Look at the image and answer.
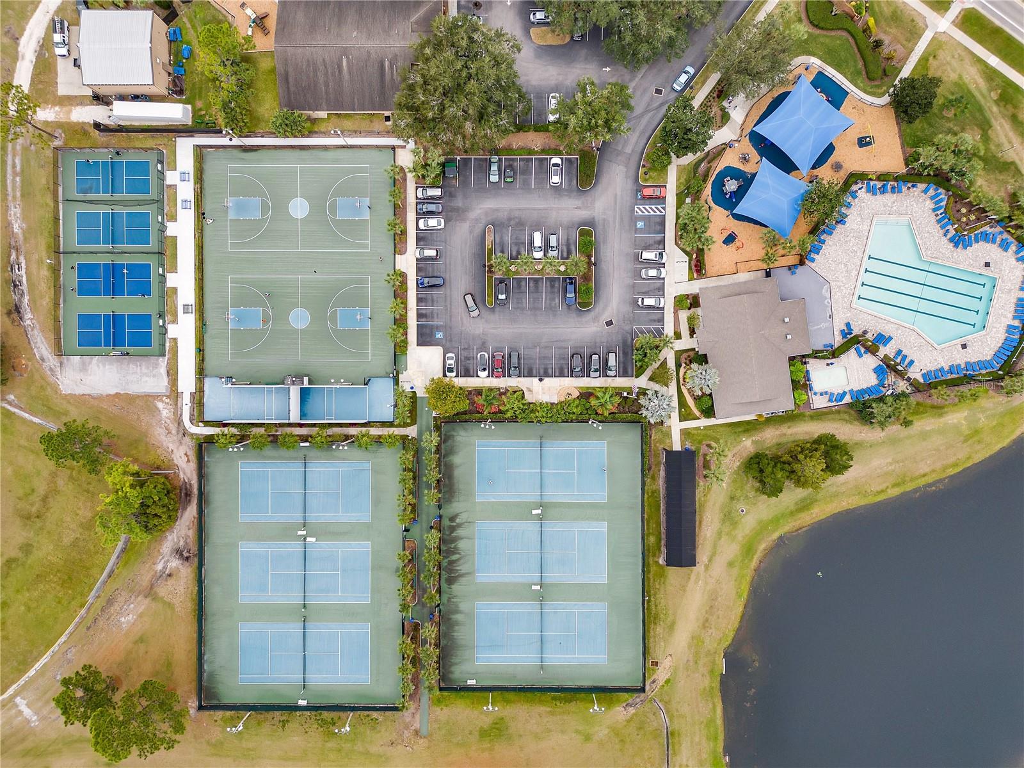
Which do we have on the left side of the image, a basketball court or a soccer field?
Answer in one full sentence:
The one visible on the left side of the image is a basketball court.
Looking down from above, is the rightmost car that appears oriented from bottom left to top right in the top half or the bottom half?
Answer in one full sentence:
The rightmost car that appears oriented from bottom left to top right is in the top half of the image.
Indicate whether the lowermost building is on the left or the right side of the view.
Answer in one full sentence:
It is on the right.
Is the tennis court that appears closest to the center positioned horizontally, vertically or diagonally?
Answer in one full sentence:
I'd say the tennis court that appears closest to the center is aligned horizontally in the picture.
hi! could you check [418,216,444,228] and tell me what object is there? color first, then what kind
white vehicle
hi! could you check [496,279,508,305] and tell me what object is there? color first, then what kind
gray vehicle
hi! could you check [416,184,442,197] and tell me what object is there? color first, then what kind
white vehicle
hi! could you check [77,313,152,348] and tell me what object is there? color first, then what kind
blue sports court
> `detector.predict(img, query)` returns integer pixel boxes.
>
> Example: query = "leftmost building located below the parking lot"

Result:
[666,450,698,567]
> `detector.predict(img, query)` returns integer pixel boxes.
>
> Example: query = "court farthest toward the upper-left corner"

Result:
[76,160,150,195]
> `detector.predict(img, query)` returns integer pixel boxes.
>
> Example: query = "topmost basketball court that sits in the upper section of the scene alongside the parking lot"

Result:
[228,165,369,250]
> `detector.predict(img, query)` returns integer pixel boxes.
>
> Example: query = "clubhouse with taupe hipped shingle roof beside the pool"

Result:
[693,276,812,418]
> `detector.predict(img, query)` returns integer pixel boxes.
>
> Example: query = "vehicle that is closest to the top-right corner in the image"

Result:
[674,63,695,90]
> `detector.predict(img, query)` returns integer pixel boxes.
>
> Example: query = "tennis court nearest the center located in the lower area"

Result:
[476,440,606,501]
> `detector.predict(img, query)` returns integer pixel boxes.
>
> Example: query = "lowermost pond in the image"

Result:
[720,436,1024,768]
